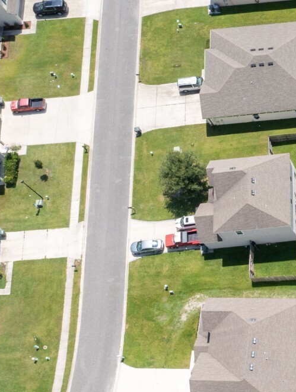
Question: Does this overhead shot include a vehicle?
Yes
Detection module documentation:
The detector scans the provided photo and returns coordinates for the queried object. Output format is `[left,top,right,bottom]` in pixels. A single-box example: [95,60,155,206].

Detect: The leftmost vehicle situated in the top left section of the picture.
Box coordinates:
[8,97,49,115]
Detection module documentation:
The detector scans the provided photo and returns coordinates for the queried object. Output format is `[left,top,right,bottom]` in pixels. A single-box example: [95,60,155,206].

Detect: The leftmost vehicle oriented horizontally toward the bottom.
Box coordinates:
[129,241,165,256]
